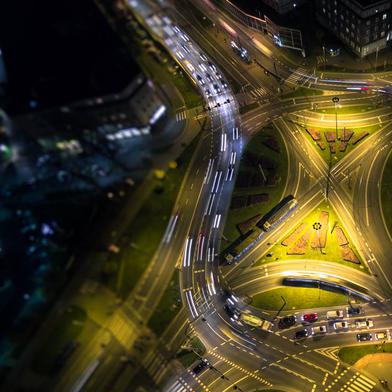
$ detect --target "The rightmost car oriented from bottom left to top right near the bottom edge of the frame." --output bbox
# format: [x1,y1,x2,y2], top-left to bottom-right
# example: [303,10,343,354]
[192,359,208,375]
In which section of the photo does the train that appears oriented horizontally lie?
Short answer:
bottom right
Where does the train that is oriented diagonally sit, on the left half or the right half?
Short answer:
right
